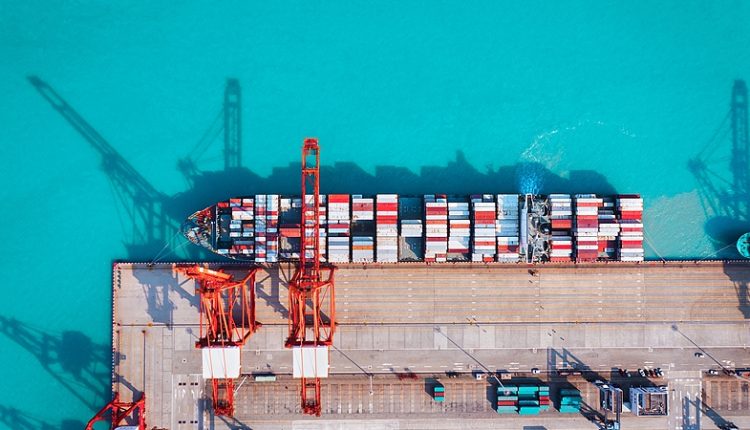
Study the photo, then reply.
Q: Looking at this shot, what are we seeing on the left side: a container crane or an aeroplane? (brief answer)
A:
container crane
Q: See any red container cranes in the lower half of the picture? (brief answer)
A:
Yes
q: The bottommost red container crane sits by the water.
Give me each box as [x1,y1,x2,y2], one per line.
[78,391,168,430]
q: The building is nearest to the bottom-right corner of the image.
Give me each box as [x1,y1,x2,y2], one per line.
[630,381,669,415]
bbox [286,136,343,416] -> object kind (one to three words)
container crane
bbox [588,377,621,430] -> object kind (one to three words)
container crane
